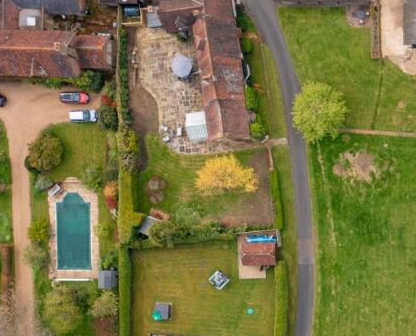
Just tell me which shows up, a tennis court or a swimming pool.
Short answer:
swimming pool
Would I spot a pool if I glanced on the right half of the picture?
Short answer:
No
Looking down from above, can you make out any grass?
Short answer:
Yes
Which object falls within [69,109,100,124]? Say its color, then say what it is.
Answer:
white car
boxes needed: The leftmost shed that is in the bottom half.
[96,272,120,288]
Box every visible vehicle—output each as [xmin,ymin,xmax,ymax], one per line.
[69,109,100,124]
[0,94,10,110]
[60,91,91,105]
